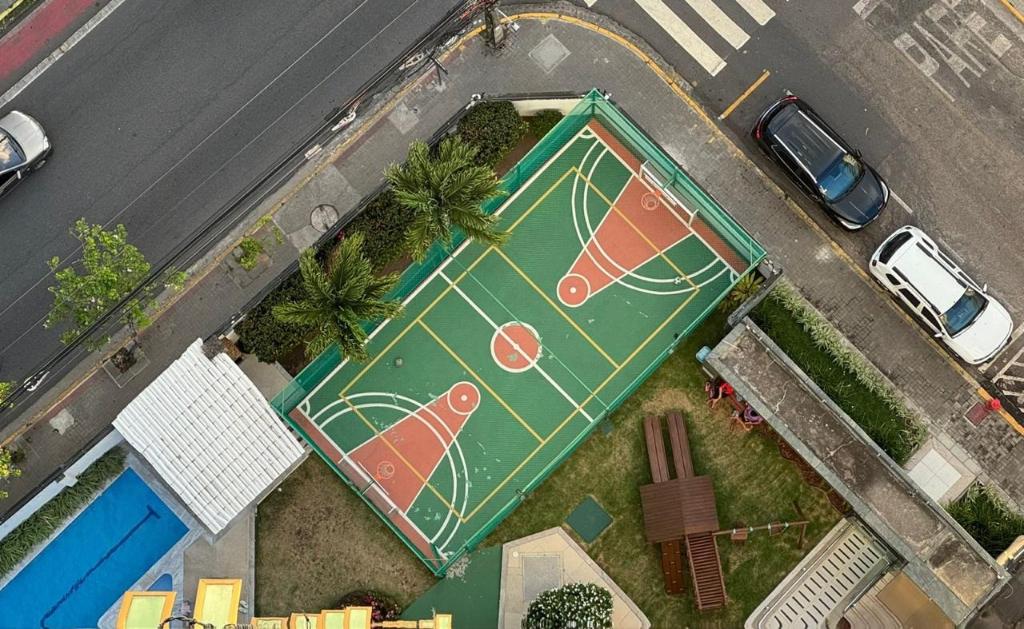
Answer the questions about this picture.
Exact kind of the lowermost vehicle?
automobile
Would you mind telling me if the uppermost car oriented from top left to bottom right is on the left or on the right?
right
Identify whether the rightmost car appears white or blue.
white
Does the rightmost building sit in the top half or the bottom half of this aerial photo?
bottom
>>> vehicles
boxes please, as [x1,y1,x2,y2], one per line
[0,110,50,197]
[753,93,893,235]
[869,220,1017,362]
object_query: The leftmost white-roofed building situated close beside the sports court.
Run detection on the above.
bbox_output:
[113,336,315,537]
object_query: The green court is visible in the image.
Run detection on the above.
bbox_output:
[290,118,747,566]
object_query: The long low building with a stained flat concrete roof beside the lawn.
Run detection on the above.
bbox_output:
[706,320,1015,629]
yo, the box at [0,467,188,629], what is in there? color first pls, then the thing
blue swimming pool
